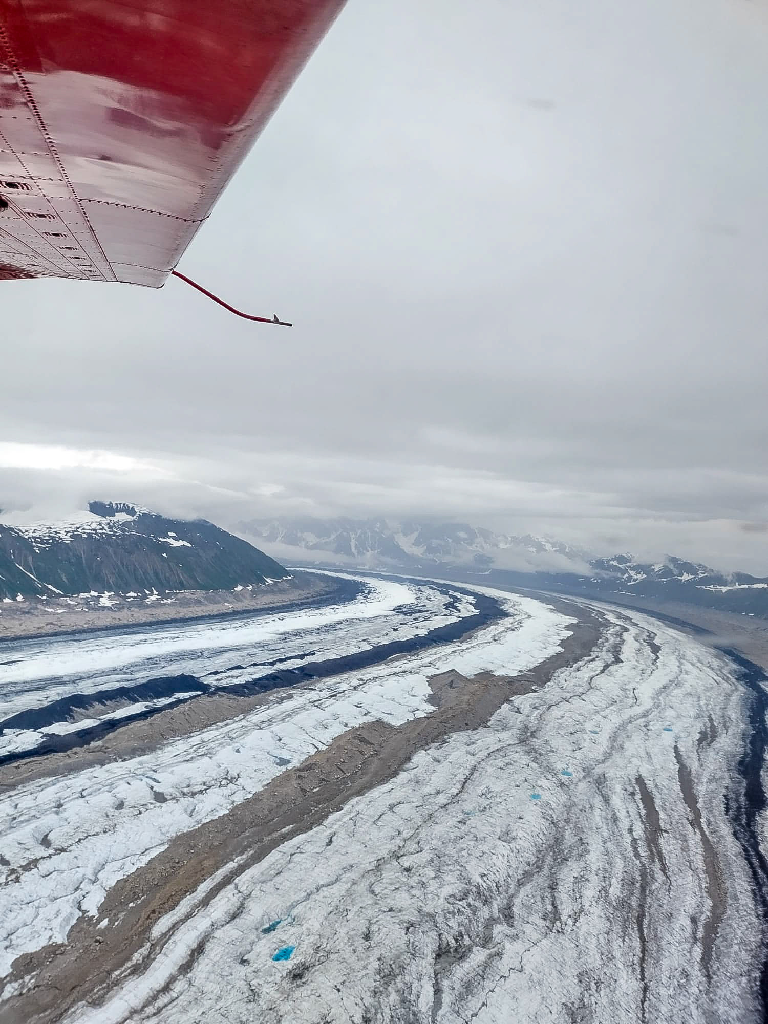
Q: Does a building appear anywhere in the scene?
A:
No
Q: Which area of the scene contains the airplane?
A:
top left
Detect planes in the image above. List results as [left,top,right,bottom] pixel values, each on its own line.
[0,0,349,326]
